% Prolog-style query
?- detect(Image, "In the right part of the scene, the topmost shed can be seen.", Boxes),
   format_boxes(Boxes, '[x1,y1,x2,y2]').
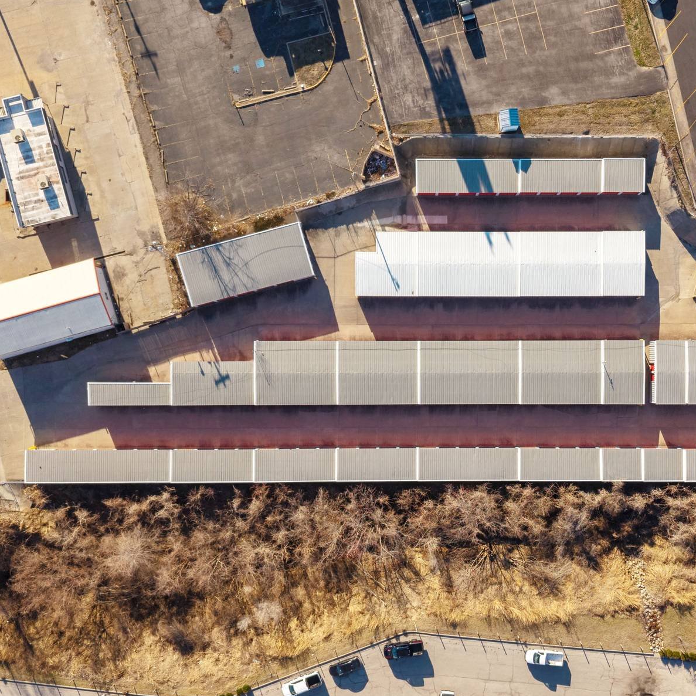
[499,109,520,134]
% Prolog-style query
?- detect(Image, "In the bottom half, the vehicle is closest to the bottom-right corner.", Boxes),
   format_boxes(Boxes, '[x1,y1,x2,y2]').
[526,649,563,666]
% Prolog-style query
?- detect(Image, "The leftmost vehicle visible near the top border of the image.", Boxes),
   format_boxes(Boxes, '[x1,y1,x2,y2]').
[456,0,479,34]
